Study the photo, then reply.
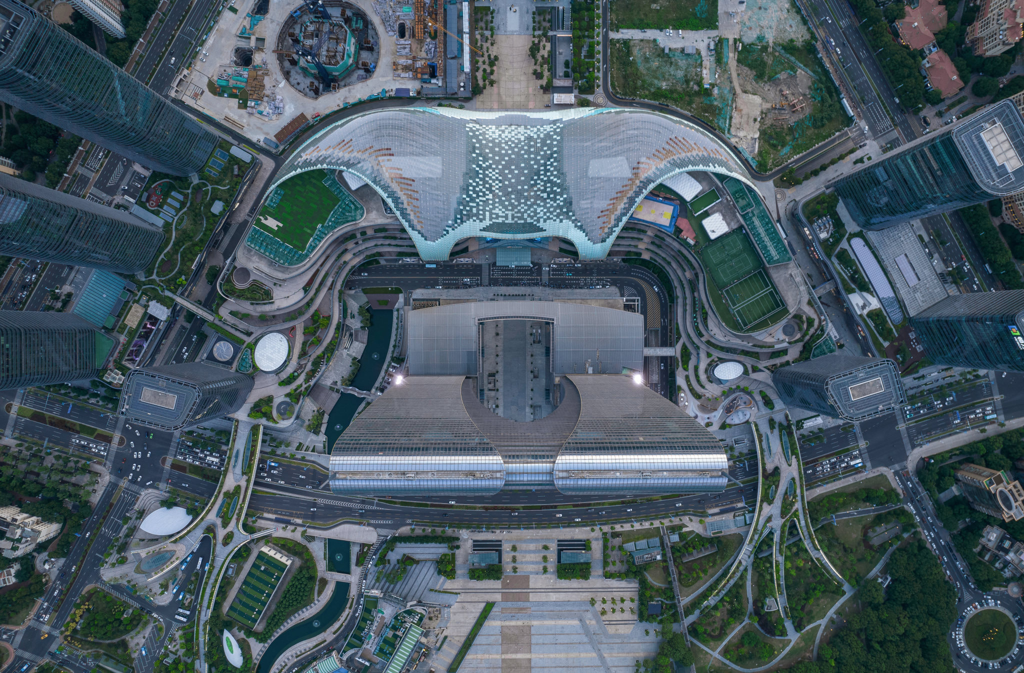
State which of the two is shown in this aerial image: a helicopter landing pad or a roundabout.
roundabout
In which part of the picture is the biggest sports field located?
bottom left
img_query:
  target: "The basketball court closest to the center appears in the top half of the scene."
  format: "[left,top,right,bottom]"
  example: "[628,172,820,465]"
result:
[630,196,679,233]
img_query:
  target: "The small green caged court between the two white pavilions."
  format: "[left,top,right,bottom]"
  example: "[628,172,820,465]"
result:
[687,187,721,216]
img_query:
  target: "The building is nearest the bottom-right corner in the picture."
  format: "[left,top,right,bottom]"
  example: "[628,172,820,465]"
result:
[966,518,1024,573]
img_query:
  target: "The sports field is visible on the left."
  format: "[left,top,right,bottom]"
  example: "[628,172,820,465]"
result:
[224,545,295,630]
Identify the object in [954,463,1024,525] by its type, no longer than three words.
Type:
building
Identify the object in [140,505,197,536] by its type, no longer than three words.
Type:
building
